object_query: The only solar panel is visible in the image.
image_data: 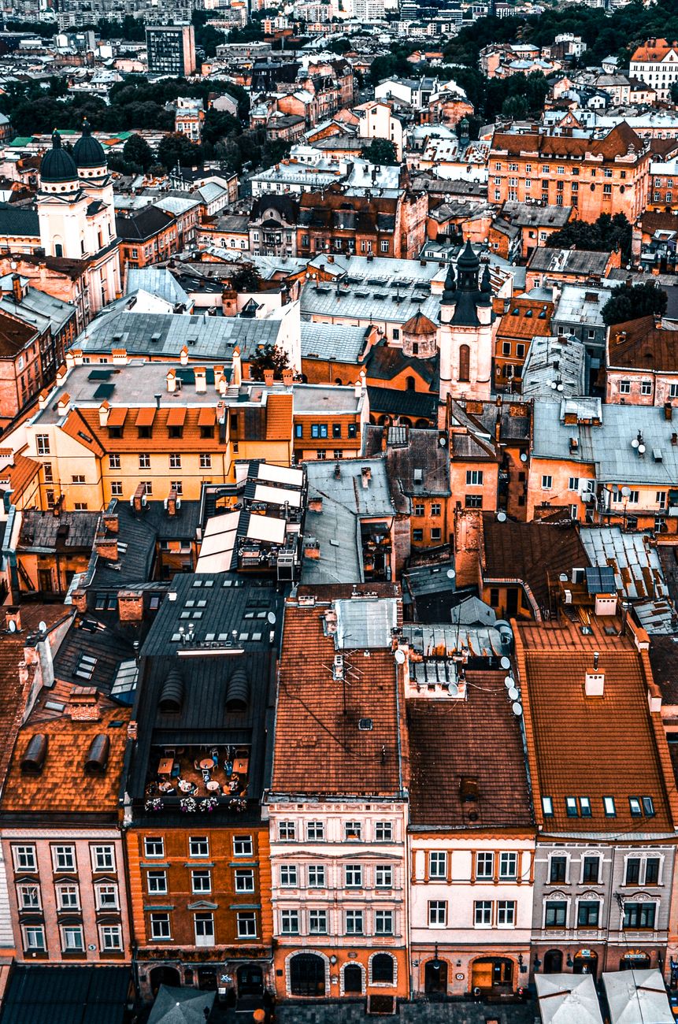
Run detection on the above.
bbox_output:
[583,568,617,622]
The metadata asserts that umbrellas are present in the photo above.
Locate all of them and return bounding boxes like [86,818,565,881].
[535,974,603,1024]
[146,985,216,1024]
[603,970,675,1024]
